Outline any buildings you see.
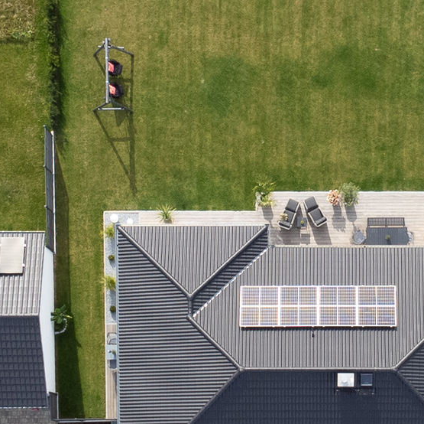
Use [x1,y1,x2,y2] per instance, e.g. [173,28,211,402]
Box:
[115,222,424,424]
[0,229,55,410]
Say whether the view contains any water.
No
